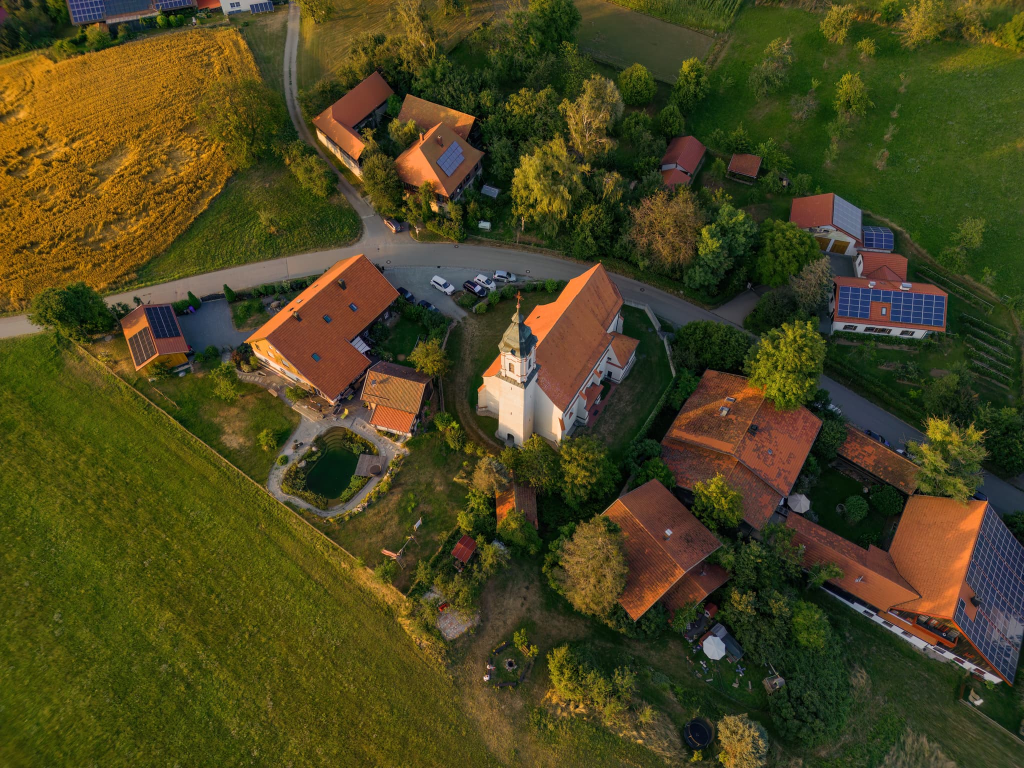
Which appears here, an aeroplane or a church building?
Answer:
church building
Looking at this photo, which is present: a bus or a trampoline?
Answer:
trampoline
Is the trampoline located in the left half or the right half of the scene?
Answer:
right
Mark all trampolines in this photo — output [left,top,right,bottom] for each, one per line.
[684,714,718,753]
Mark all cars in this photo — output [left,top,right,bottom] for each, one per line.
[392,283,417,305]
[415,295,443,315]
[491,269,517,283]
[426,276,454,298]
[460,279,488,298]
[185,337,198,359]
[964,482,1003,513]
[473,273,498,292]
[828,394,852,420]
[382,214,404,232]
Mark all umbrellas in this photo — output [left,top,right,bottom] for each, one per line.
[787,495,809,515]
[702,637,724,660]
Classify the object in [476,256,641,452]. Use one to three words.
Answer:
church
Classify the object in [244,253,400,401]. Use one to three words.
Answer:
house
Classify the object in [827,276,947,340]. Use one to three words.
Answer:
house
